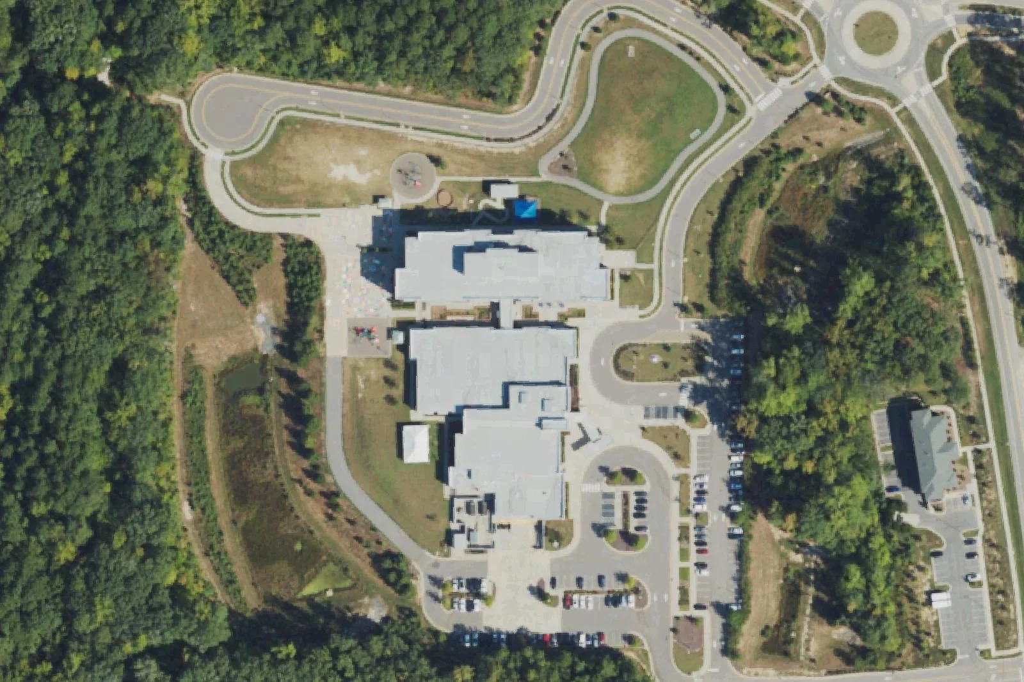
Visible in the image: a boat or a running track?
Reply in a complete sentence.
It is a running track that can be seen here.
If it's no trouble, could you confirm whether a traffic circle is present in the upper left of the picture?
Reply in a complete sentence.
No, no traffic circle can be made out in the upper left of the picture.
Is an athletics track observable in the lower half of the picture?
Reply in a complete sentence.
No, looking in the lower half of the picture, there is no athletics track.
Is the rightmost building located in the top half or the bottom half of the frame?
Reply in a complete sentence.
The rightmost building is in the bottom half of the image.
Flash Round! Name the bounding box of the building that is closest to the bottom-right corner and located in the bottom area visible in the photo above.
[911,407,961,503]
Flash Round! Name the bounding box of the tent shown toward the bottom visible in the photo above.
[403,425,430,463]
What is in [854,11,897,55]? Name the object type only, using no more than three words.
roundabout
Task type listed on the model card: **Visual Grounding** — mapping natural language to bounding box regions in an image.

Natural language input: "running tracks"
[538,28,726,204]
